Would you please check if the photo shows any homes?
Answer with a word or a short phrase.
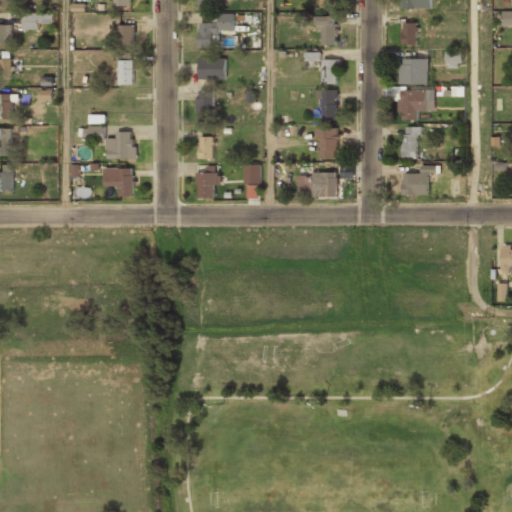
Yes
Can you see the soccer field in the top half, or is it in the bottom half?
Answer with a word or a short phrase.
bottom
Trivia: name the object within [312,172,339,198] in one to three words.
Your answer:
house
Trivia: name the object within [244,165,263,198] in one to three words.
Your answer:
building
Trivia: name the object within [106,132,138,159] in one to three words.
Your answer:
house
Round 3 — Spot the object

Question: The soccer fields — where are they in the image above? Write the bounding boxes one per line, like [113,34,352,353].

[214,428,434,512]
